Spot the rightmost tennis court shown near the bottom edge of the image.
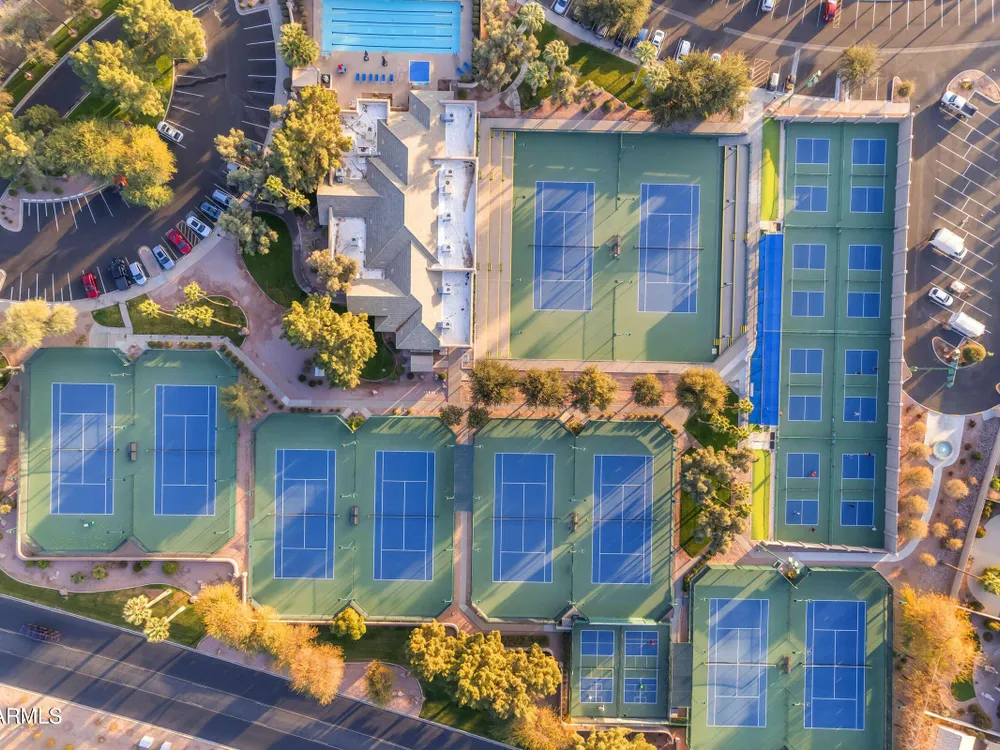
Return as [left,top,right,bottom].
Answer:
[789,568,886,750]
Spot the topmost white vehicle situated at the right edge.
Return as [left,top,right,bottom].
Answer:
[940,93,975,116]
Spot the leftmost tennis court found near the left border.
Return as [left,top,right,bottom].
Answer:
[27,349,133,553]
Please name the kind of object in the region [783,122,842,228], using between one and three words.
sports court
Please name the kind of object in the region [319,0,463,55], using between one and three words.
swimming pool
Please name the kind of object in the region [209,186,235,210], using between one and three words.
car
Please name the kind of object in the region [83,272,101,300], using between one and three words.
car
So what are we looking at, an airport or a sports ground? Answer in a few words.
sports ground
